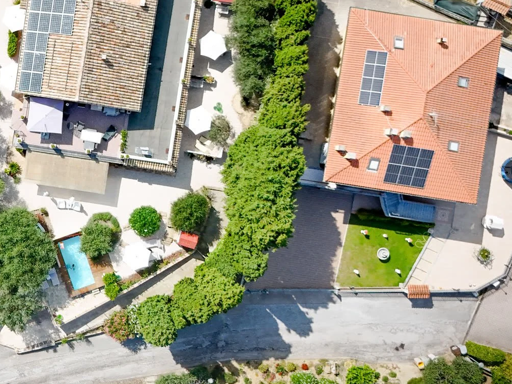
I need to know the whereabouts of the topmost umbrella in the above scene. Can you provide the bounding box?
[2,6,25,32]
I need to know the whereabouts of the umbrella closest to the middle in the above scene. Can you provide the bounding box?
[184,106,212,136]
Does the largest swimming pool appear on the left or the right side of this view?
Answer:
left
